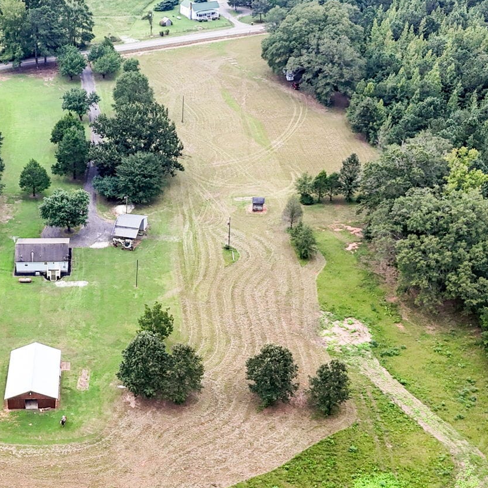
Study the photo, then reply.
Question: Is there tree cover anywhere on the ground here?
Yes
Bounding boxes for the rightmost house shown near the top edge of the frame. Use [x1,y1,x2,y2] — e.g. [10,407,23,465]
[179,1,219,20]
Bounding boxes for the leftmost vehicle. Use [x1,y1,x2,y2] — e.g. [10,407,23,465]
[110,236,131,249]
